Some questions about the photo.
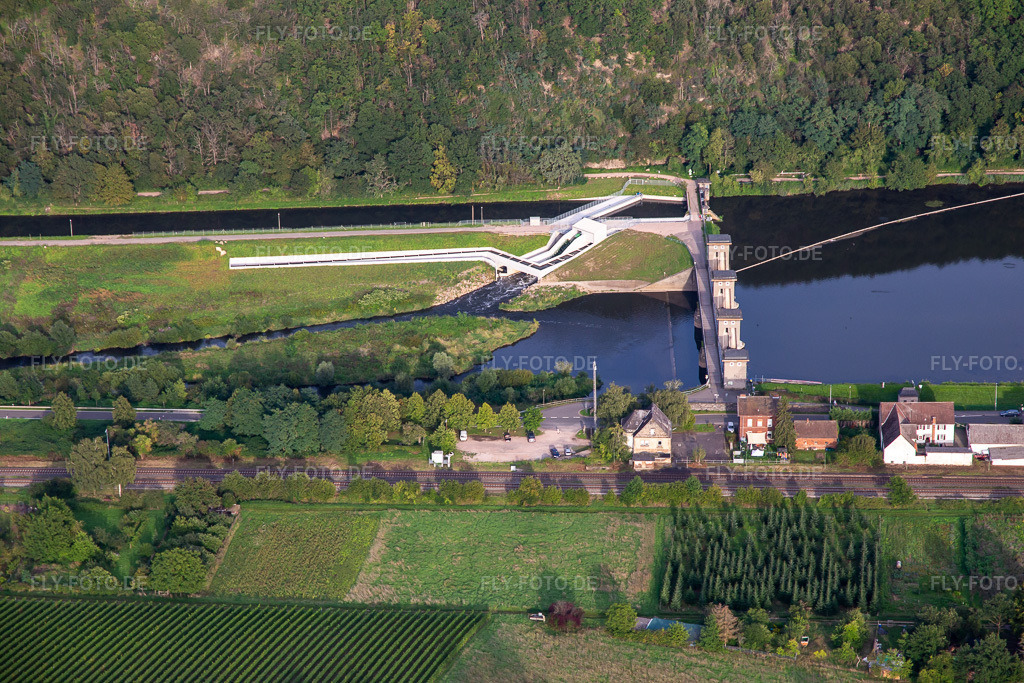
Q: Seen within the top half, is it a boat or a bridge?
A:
bridge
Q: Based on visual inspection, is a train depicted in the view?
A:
No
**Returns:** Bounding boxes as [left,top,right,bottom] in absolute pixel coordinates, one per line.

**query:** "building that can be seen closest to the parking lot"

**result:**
[620,402,674,470]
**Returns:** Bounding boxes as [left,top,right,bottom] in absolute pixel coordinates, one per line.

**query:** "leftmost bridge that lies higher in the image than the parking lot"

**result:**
[550,196,642,234]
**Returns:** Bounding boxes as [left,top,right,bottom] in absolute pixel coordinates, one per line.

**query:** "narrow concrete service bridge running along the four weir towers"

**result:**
[693,247,722,387]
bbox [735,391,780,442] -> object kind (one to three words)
house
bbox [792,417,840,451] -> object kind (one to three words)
house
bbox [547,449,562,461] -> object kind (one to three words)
vehicle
